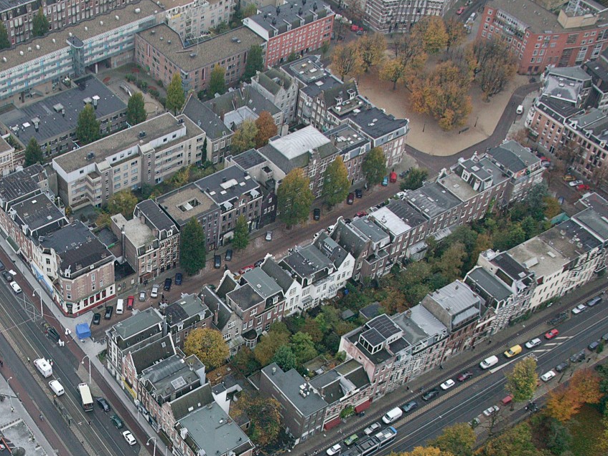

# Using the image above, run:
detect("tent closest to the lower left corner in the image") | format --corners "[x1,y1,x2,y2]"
[71,323,95,345]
